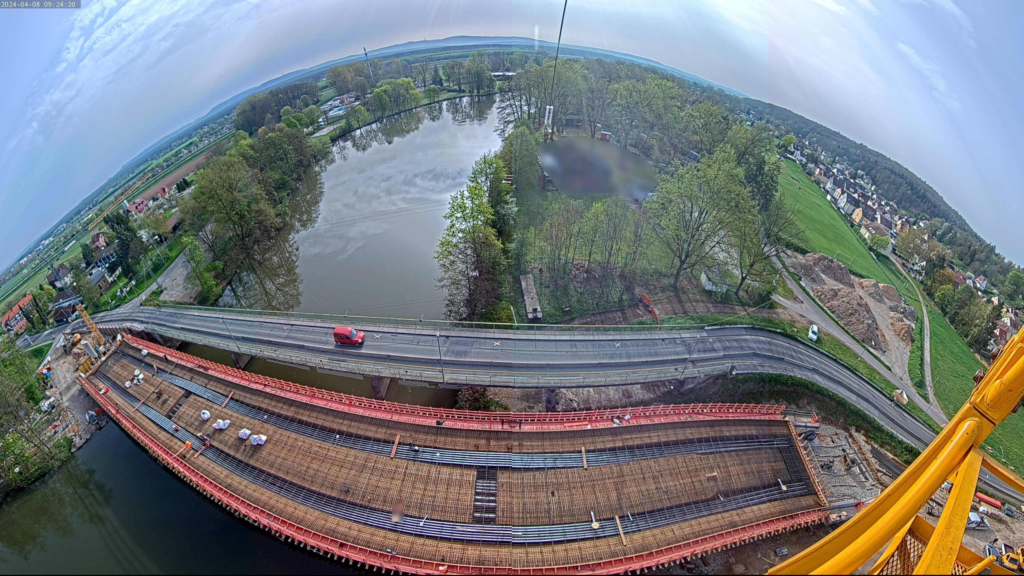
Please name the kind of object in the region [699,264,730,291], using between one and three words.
shed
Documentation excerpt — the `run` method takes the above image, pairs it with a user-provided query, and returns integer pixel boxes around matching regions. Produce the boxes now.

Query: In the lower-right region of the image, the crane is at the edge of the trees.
[754,325,1024,576]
